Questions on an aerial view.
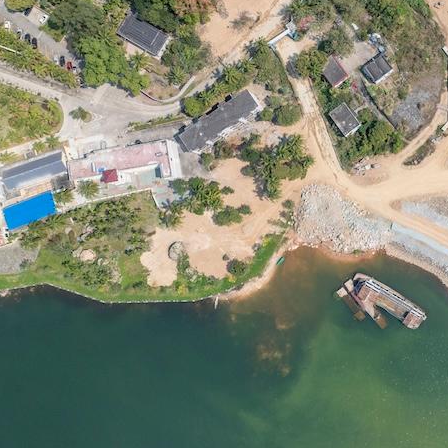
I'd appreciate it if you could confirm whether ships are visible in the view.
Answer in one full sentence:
Yes, a ship appears in the view.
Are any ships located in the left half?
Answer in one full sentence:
No, no ship appears in the left half.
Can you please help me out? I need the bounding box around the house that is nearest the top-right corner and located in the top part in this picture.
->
[360,55,393,84]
